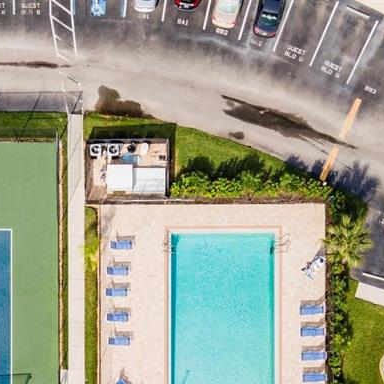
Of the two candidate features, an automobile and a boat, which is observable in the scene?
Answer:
automobile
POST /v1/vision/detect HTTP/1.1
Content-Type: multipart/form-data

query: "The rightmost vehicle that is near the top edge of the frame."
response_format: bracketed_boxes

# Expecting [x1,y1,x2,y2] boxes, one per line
[258,0,290,35]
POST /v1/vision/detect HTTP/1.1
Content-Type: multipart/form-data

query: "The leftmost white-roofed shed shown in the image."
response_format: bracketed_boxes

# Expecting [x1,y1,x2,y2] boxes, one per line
[107,165,132,194]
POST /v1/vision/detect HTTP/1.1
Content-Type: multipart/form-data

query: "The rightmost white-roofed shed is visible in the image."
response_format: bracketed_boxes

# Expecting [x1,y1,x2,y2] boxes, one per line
[135,168,165,194]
